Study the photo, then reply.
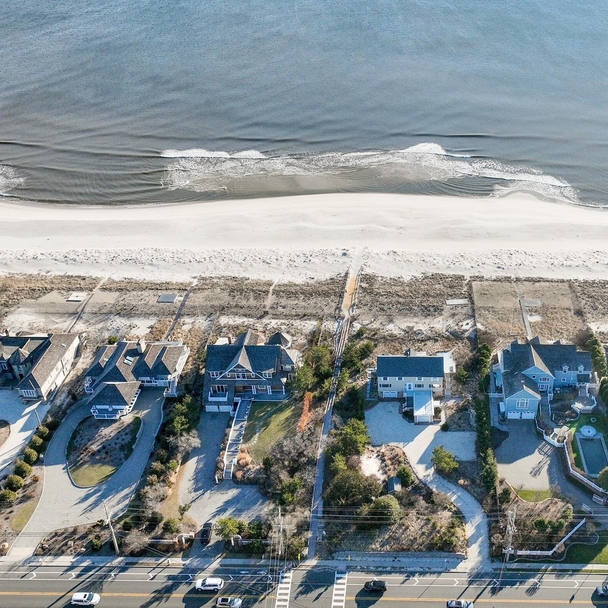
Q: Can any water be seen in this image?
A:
Yes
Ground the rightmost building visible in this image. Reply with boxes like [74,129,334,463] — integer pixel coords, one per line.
[488,332,605,418]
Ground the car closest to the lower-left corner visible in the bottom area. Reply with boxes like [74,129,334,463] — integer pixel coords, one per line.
[69,591,101,607]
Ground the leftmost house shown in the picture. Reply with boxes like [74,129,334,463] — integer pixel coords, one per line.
[0,333,77,411]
